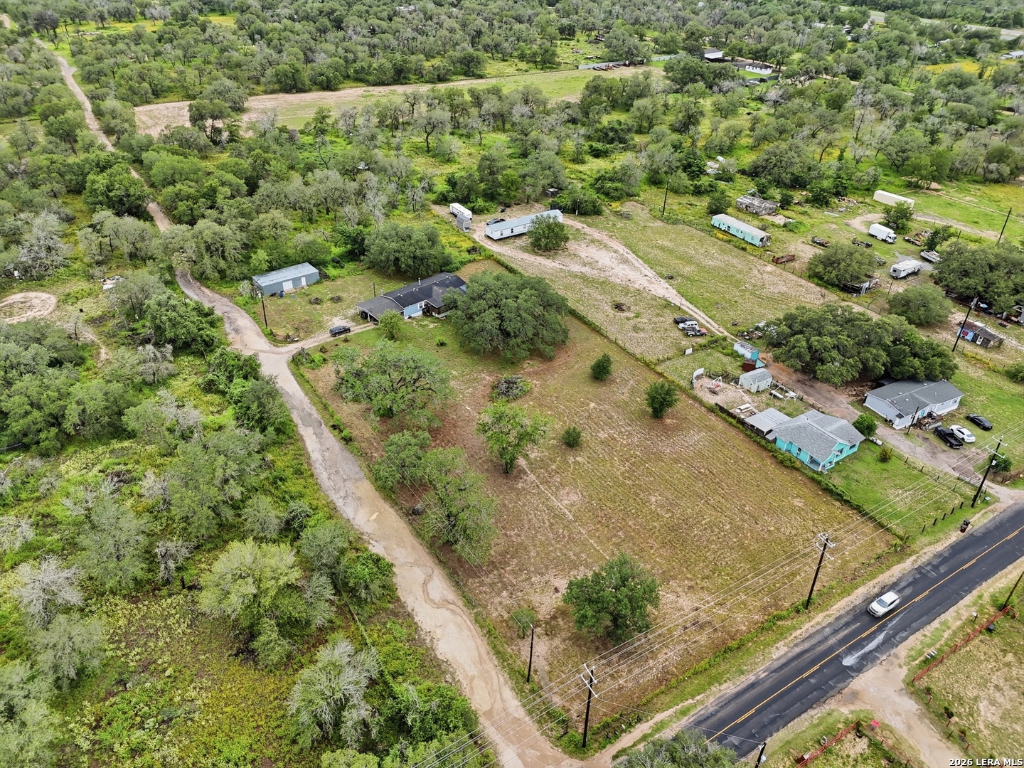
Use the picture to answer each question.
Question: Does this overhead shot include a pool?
No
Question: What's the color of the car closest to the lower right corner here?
white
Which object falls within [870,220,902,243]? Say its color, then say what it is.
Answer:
white truck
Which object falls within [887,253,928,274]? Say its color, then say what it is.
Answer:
white vehicle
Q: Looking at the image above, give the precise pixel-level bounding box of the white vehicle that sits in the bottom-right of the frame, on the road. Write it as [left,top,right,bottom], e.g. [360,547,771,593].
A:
[868,588,905,618]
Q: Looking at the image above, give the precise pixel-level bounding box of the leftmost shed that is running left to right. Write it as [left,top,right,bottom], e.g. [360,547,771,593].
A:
[250,260,318,295]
